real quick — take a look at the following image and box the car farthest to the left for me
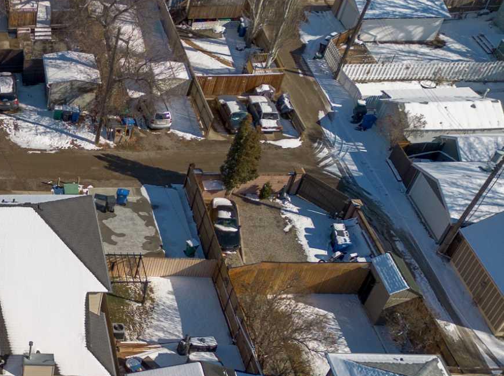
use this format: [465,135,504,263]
[0,73,20,111]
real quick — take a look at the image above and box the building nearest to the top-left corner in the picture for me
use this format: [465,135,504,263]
[42,46,102,106]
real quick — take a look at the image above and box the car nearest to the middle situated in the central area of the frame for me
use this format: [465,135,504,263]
[208,197,247,248]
